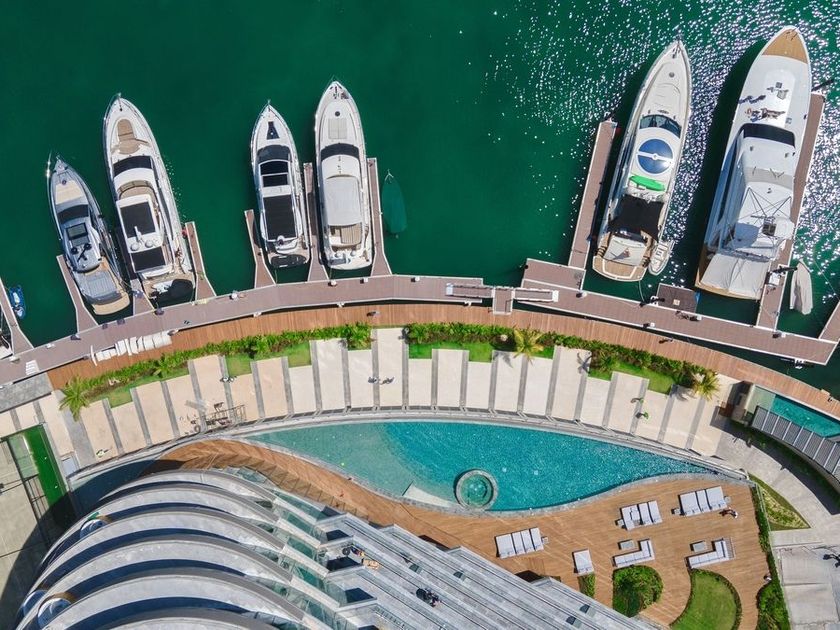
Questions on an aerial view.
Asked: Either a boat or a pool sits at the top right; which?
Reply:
boat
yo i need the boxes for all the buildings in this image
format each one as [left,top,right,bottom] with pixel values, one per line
[718,382,754,427]
[11,468,653,630]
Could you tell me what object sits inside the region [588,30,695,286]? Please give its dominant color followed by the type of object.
white boat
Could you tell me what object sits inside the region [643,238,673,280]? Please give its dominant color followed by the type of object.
white boat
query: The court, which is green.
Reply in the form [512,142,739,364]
[0,425,75,562]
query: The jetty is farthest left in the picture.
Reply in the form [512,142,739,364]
[0,264,38,354]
